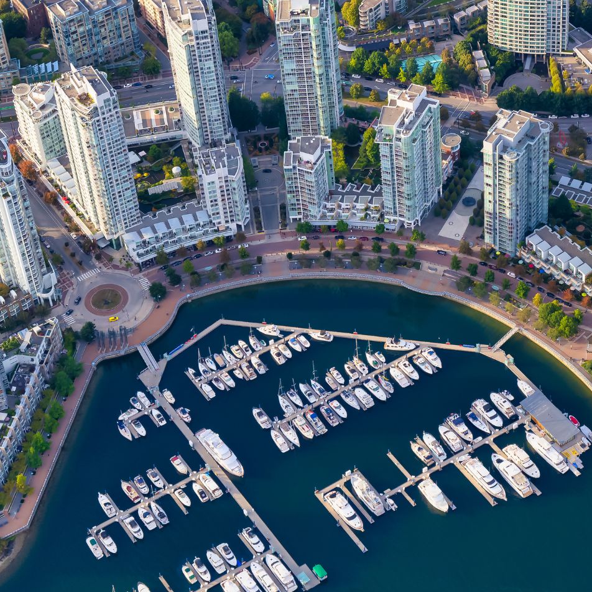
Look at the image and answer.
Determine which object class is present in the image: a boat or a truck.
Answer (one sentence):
The one in the frame is a boat.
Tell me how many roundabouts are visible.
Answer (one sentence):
Only 1 roundabout is visible.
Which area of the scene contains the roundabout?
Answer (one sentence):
The roundabout sits in the left section of the image.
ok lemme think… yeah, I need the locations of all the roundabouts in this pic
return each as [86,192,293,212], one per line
[65,269,147,330]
